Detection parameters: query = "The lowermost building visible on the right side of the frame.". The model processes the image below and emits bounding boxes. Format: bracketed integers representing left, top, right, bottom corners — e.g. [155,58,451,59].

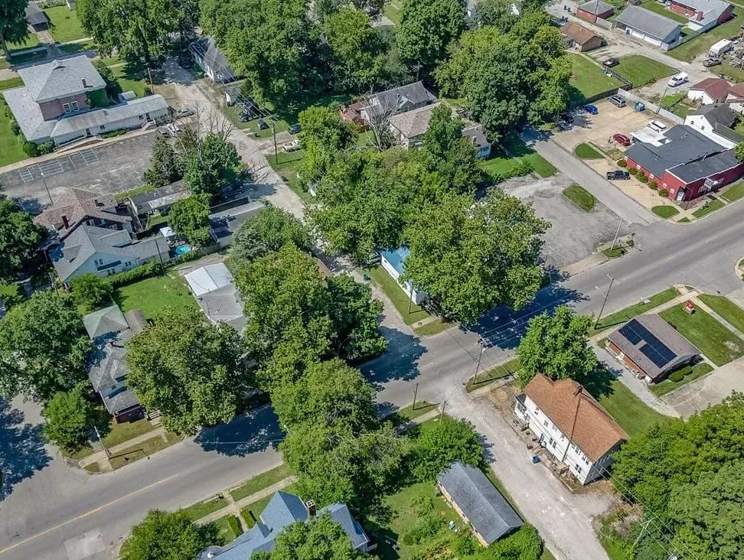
[438,468,527,550]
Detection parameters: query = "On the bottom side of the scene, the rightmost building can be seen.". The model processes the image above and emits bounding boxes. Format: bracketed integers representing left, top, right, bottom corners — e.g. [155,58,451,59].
[606,317,702,388]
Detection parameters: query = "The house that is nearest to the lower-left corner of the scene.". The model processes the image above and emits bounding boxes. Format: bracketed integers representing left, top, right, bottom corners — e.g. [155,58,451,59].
[82,307,151,429]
